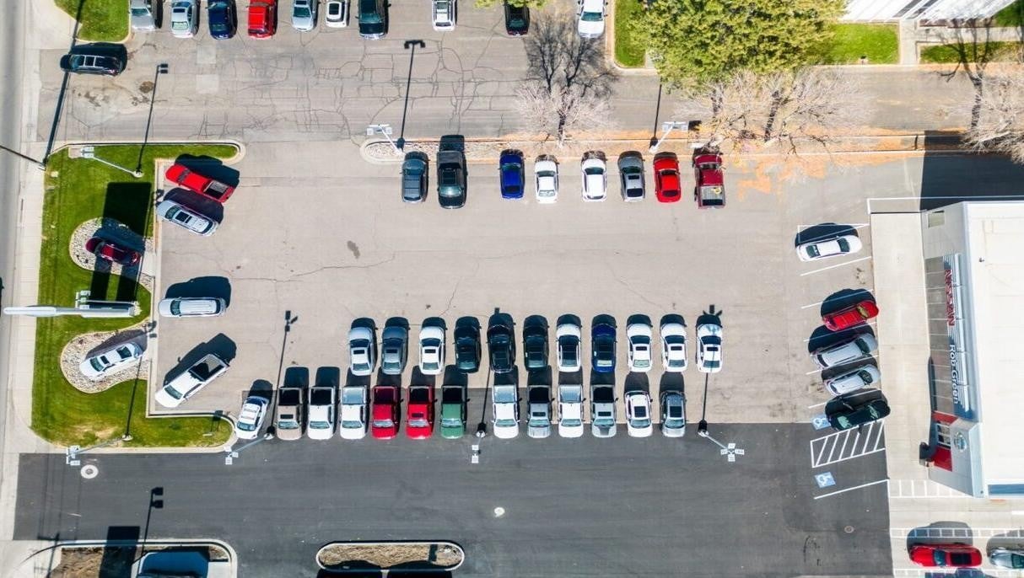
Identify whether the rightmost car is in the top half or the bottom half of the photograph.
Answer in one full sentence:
The rightmost car sits in the bottom half of the picture.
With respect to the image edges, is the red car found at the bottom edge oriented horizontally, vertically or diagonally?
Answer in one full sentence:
What the image shows is the red car found at the bottom edge lying horizontally.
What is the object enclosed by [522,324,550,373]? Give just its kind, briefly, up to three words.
car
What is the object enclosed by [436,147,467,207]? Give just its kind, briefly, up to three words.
truck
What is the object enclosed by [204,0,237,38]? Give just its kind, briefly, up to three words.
car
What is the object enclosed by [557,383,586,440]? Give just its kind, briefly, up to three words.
truck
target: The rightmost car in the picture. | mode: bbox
[984,548,1024,572]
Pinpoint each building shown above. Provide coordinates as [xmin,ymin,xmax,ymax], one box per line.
[923,199,1024,500]
[831,0,1024,25]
